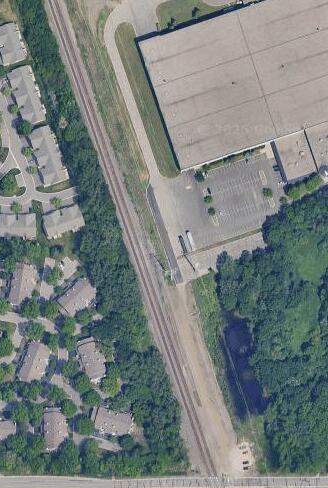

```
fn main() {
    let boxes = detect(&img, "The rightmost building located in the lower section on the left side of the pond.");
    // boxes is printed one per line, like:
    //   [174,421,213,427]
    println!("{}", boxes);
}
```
[93,405,137,437]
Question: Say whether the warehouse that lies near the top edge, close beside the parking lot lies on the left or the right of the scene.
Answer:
right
